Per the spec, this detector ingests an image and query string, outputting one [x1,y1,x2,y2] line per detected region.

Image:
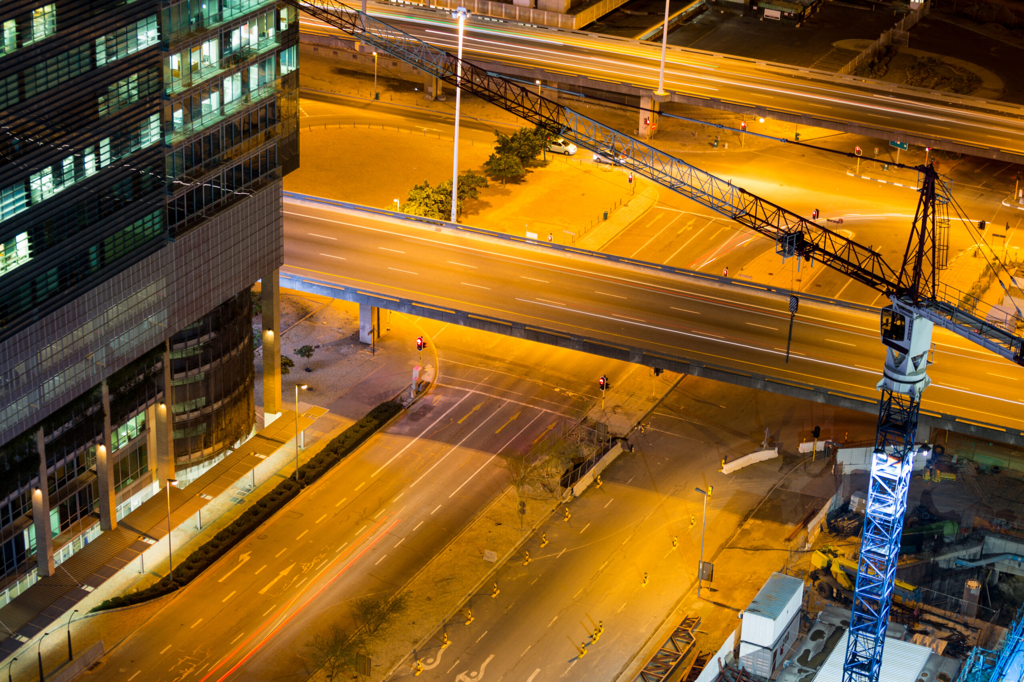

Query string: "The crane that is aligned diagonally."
[293,0,1024,682]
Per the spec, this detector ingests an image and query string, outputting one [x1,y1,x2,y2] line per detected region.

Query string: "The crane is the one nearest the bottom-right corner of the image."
[794,544,941,614]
